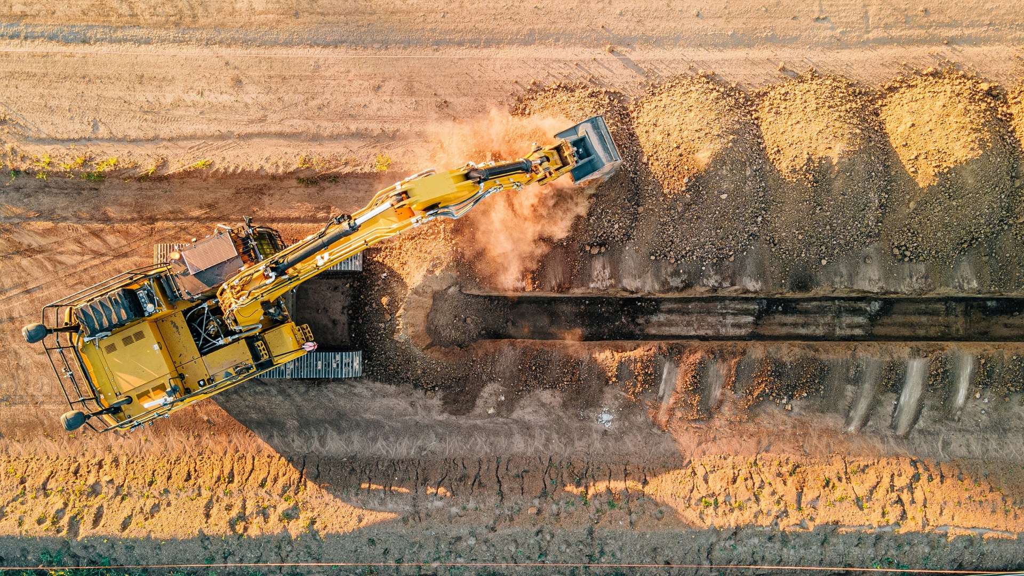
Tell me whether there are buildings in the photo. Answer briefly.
No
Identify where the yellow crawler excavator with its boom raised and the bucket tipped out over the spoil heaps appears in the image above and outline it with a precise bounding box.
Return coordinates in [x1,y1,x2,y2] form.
[21,110,627,433]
